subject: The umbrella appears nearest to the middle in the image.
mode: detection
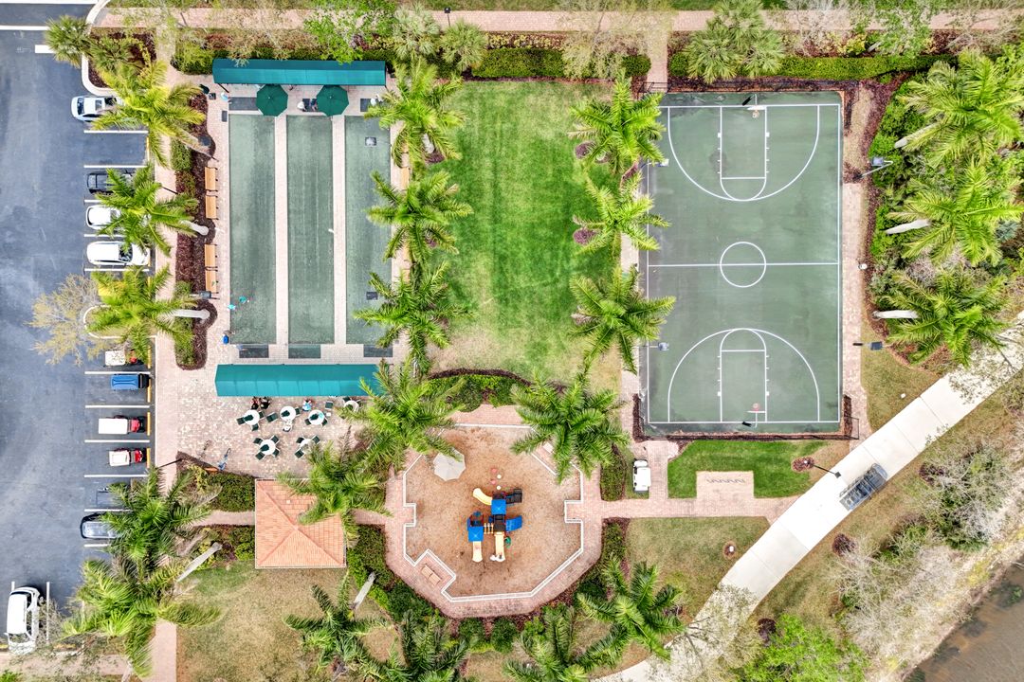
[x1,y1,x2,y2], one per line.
[435,449,466,480]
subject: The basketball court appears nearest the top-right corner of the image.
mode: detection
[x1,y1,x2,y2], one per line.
[638,92,843,437]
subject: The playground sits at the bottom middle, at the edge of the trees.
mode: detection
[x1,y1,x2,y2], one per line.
[401,423,584,604]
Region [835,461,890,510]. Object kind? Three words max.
car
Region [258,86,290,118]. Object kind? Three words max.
umbrella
